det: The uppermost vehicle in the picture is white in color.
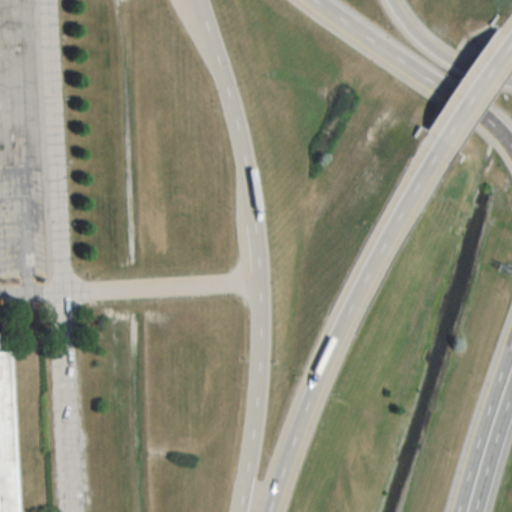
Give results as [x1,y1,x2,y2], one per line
[252,168,268,224]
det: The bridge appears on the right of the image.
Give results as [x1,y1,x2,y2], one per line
[416,22,512,160]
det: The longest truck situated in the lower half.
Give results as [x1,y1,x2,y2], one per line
[310,336,338,392]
